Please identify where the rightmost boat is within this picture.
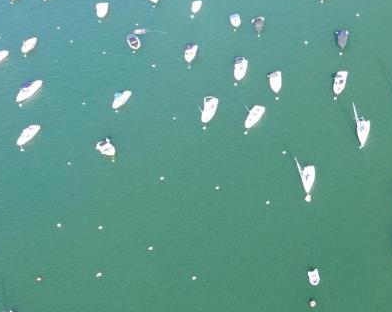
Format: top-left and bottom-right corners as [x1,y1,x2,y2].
[353,108,370,146]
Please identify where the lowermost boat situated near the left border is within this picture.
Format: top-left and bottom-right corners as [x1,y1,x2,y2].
[15,124,45,145]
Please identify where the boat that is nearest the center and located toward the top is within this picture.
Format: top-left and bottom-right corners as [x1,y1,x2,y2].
[200,95,221,121]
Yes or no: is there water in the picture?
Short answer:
Yes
